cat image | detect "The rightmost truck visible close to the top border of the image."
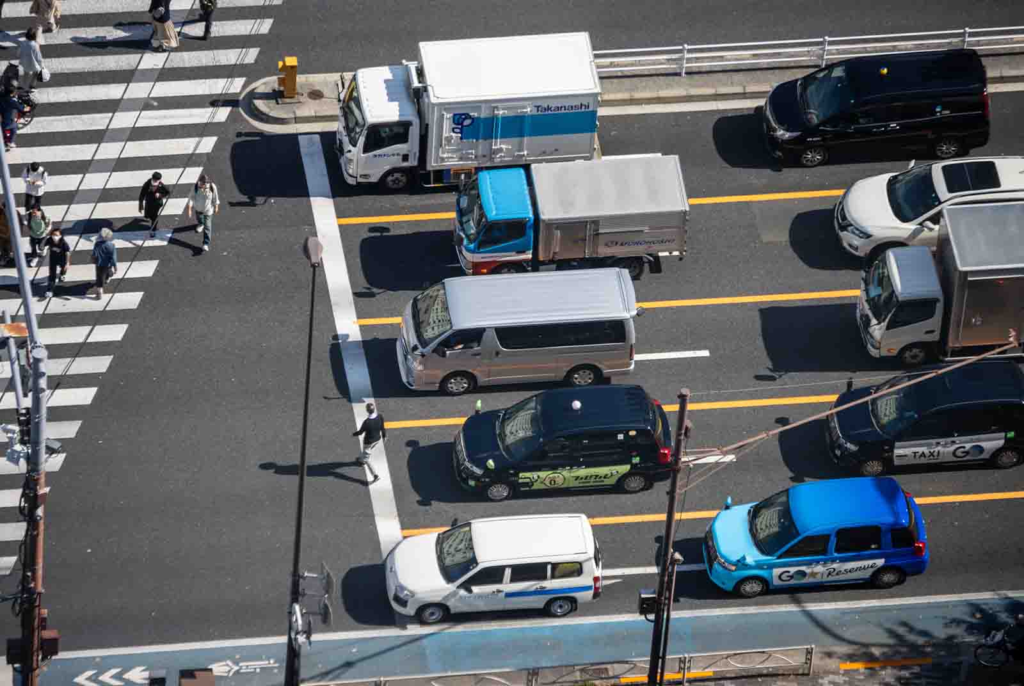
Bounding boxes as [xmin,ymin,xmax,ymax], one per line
[333,32,600,198]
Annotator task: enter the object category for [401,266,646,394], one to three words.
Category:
vehicle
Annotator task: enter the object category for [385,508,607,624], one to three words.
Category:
car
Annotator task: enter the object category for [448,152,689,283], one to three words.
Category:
truck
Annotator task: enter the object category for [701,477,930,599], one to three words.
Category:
car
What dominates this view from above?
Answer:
paved ground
